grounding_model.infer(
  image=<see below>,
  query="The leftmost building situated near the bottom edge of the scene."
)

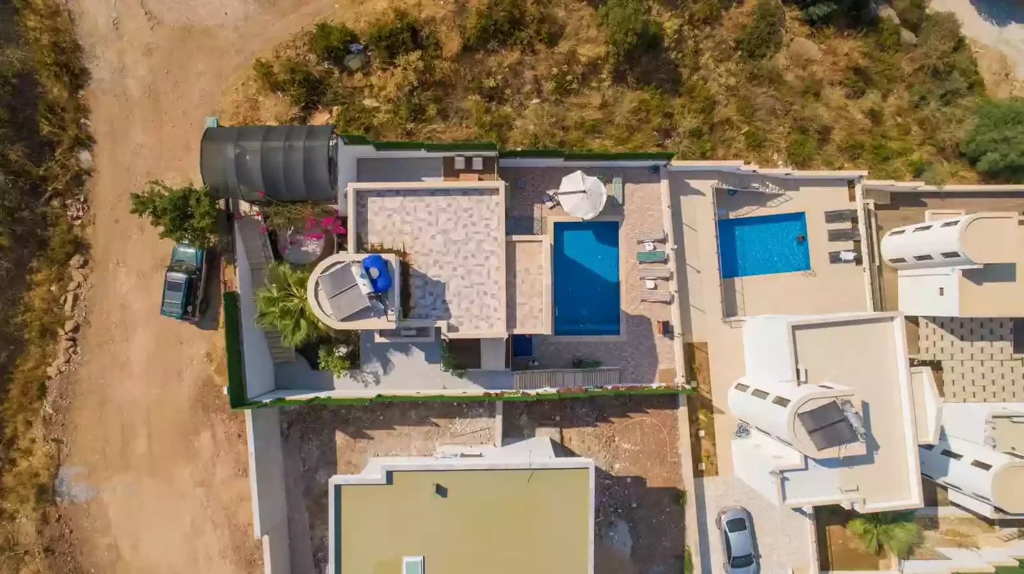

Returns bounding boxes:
[328,429,594,574]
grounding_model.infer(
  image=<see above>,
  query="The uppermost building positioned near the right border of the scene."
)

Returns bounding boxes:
[877,208,1024,318]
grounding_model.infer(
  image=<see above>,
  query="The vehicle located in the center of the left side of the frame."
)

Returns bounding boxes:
[157,241,213,327]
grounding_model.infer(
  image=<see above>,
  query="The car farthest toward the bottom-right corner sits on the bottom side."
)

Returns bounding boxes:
[720,507,764,574]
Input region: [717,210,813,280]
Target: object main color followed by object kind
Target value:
blue swimming pool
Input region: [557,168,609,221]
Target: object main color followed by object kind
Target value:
white umbrella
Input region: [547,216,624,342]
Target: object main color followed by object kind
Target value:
blue swimming pool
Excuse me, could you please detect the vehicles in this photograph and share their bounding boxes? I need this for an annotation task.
[720,507,764,574]
[157,241,213,327]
